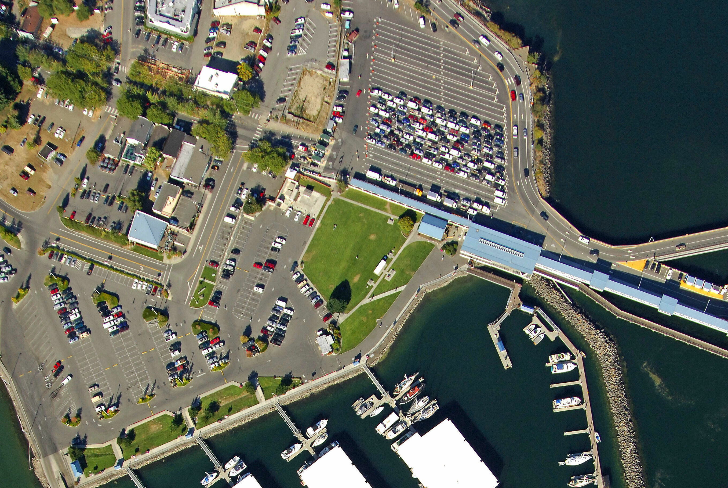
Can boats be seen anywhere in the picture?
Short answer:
Yes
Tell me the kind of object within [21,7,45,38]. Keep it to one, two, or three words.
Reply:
house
